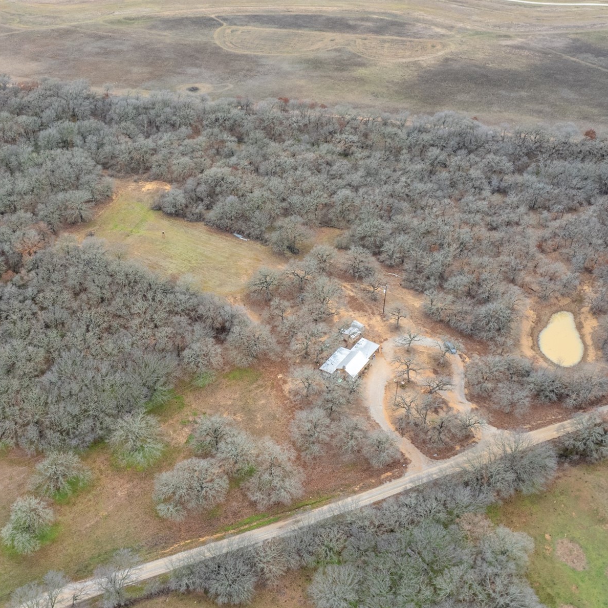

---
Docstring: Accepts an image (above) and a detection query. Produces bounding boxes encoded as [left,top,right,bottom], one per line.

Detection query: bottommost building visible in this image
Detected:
[319,338,380,385]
